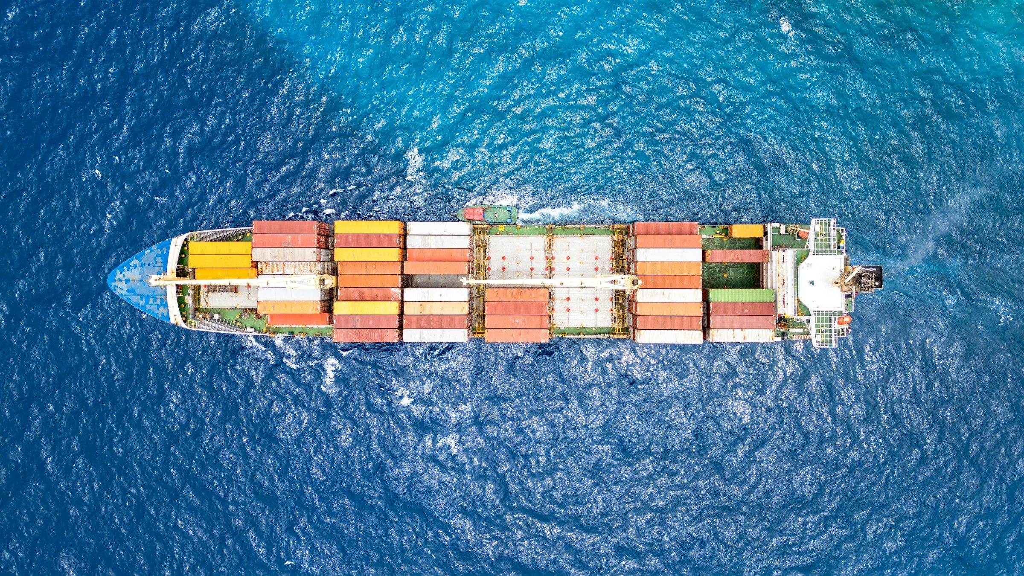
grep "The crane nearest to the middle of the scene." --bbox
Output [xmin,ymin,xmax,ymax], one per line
[460,273,638,294]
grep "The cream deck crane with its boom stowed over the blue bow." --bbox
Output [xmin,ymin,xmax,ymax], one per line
[144,273,339,290]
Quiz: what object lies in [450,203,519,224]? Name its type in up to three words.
boat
